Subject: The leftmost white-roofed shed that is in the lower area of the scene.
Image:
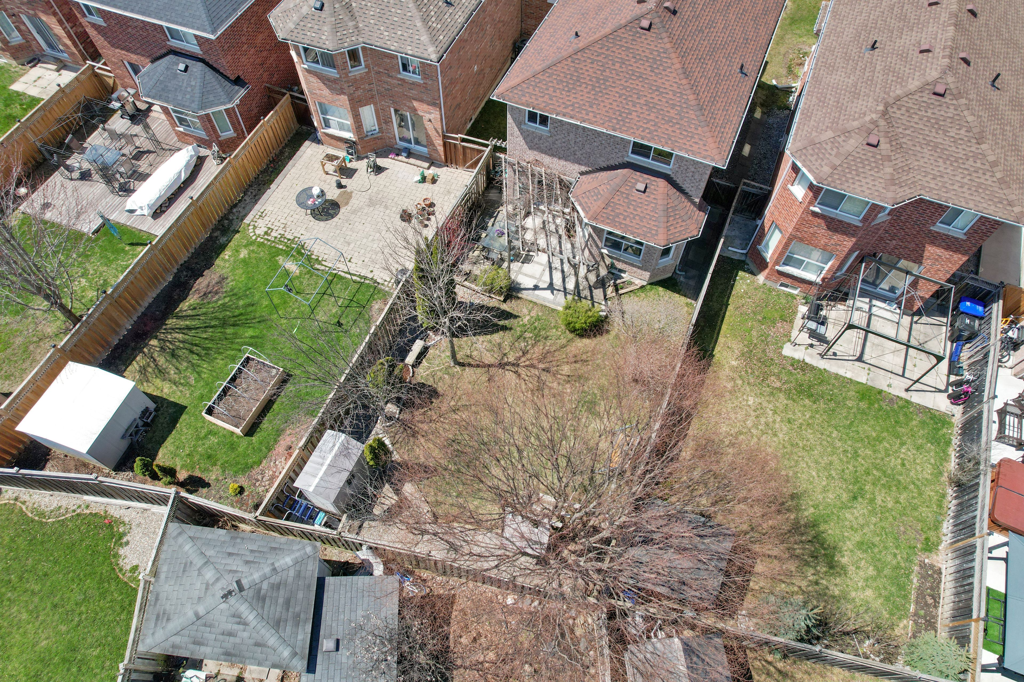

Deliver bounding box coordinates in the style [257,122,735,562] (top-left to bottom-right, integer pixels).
[15,361,154,467]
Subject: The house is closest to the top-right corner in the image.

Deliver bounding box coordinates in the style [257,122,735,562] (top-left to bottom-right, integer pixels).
[739,0,1024,312]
